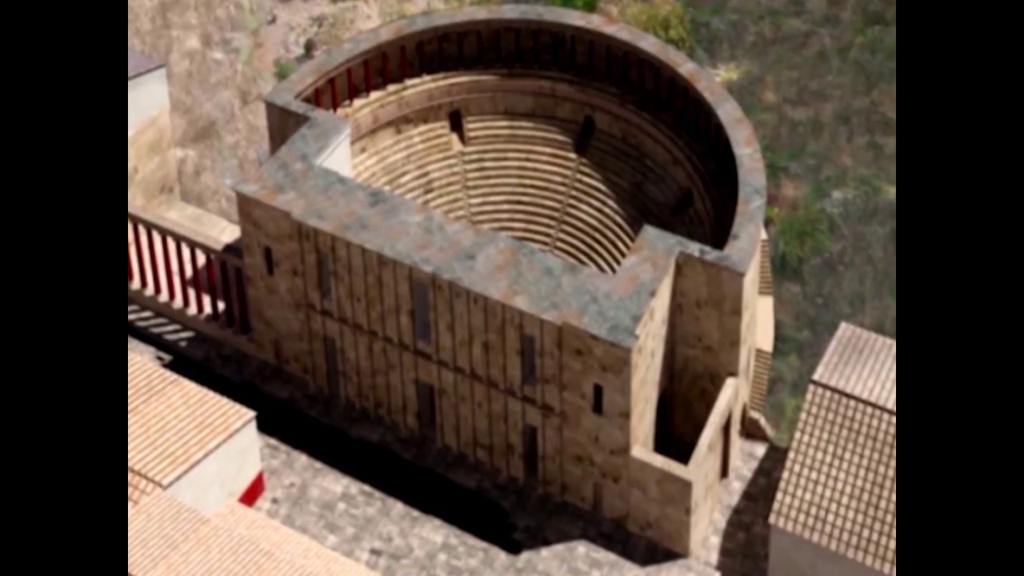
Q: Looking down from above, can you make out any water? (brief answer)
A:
No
